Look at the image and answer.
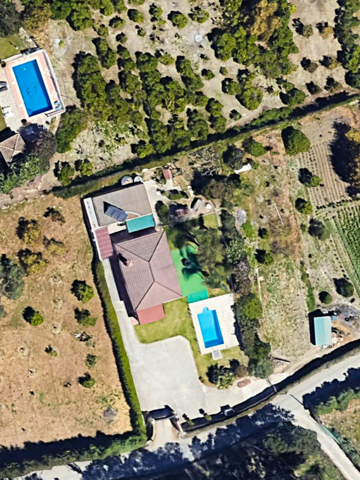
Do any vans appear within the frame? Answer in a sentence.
No, there appears to be no van in this shot.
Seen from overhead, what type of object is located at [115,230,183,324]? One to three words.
house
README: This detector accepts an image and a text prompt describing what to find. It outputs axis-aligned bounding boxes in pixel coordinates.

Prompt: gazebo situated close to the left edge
[0,134,26,166]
